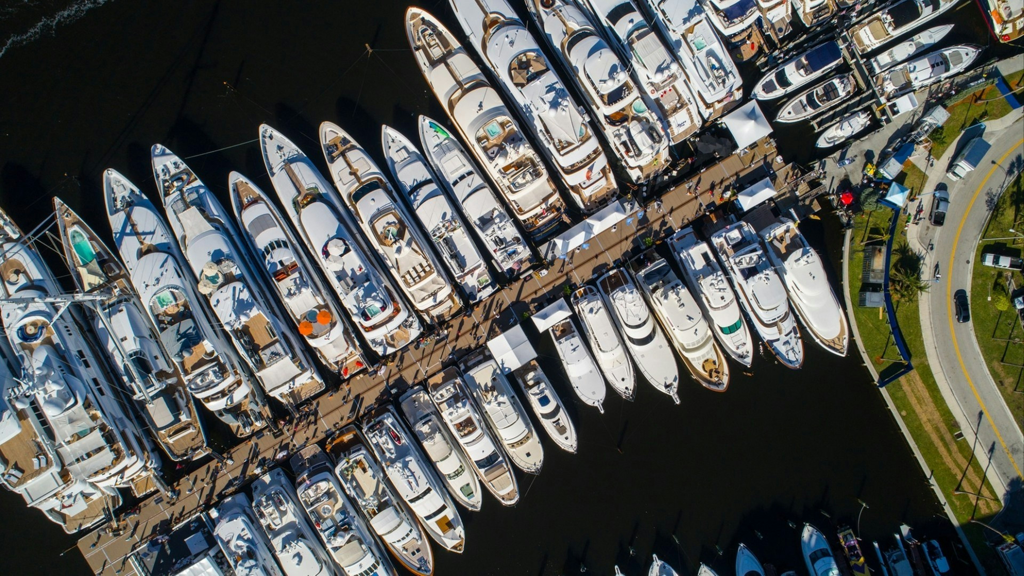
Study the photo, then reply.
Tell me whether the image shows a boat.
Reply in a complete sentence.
Yes, I can see a boat in this picture.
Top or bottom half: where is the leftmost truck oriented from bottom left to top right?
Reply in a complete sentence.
Seen from above, the leftmost truck oriented from bottom left to top right lies in the top half of the view.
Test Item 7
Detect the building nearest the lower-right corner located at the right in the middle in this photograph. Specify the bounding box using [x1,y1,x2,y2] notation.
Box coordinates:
[853,292,883,307]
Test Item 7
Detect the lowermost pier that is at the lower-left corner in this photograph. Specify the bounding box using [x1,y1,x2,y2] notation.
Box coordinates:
[95,550,147,576]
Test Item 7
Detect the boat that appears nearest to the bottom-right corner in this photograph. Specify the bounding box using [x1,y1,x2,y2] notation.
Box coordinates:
[918,536,951,576]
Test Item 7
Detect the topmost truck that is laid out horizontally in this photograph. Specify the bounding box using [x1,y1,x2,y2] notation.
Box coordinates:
[979,253,1024,275]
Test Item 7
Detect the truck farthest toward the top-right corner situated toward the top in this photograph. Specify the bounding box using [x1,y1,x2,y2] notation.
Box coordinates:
[948,135,1002,187]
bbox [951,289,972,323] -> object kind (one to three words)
car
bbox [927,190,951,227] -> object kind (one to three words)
truck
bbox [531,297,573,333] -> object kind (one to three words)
tent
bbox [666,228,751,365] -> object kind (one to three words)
boat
